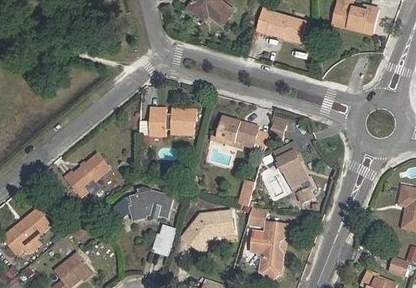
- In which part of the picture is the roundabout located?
right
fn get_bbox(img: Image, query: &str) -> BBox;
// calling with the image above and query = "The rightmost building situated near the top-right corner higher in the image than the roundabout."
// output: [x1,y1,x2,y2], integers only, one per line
[332,0,380,36]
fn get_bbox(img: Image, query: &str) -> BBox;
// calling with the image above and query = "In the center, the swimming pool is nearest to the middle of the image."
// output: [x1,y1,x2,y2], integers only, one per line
[210,150,232,166]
